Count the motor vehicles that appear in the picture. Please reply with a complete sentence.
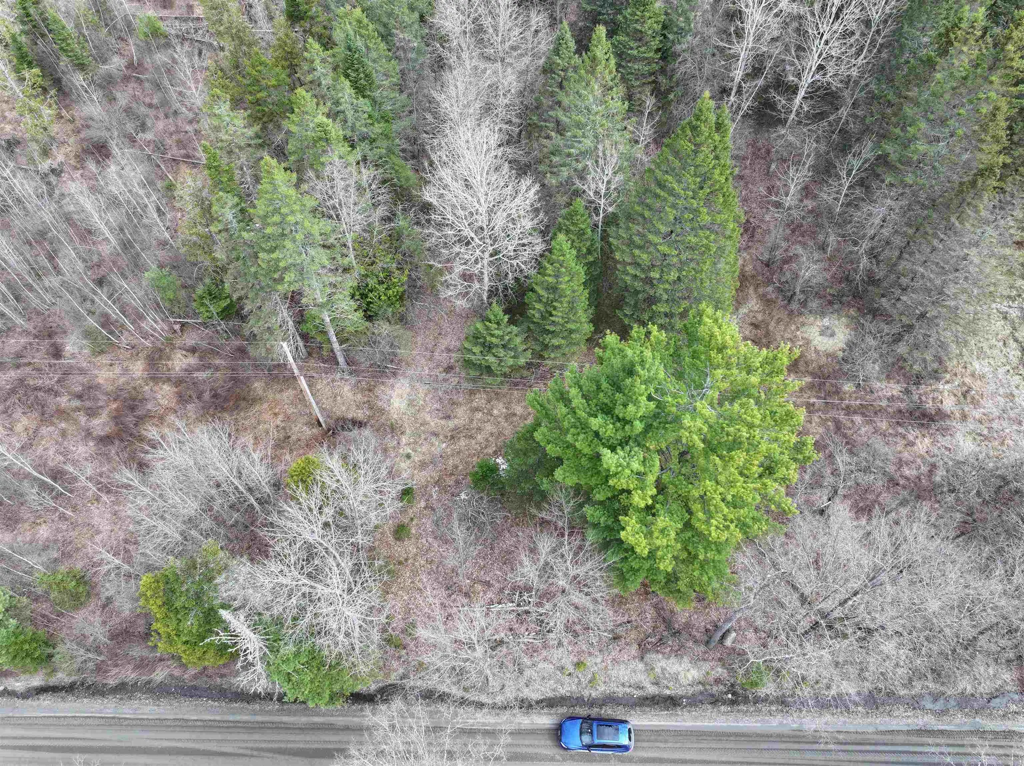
The picture shows just 1 motor vehicle.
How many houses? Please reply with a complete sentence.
I count no houses.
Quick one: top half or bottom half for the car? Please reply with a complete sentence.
The car sits in the bottom half of the picture.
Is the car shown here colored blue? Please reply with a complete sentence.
Yes, the car is indeed blue.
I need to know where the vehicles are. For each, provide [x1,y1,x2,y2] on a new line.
[558,718,634,759]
